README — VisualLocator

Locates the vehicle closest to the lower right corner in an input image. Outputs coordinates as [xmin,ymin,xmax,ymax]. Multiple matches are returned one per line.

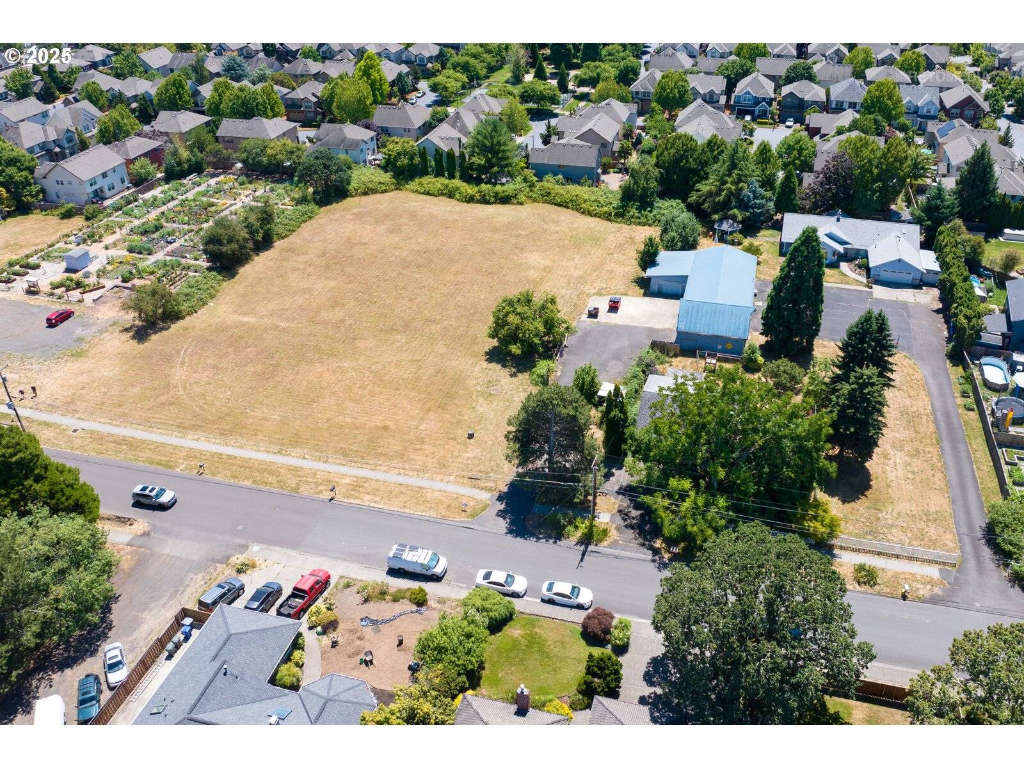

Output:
[540,582,594,610]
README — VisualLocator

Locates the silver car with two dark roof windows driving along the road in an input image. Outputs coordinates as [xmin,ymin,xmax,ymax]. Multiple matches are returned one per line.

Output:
[129,482,177,508]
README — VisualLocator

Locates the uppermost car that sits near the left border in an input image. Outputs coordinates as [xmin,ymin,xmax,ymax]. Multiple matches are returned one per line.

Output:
[42,309,76,326]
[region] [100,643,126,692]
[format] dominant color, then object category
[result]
white car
